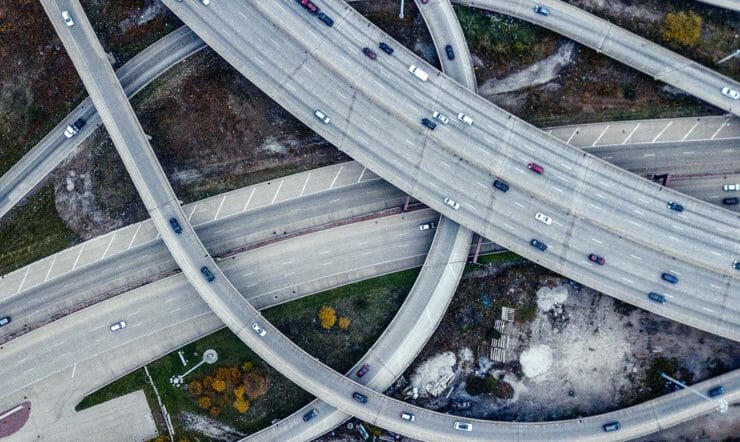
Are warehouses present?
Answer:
No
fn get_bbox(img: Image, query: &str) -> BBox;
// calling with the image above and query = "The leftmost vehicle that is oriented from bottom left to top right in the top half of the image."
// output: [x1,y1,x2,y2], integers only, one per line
[66,119,84,136]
